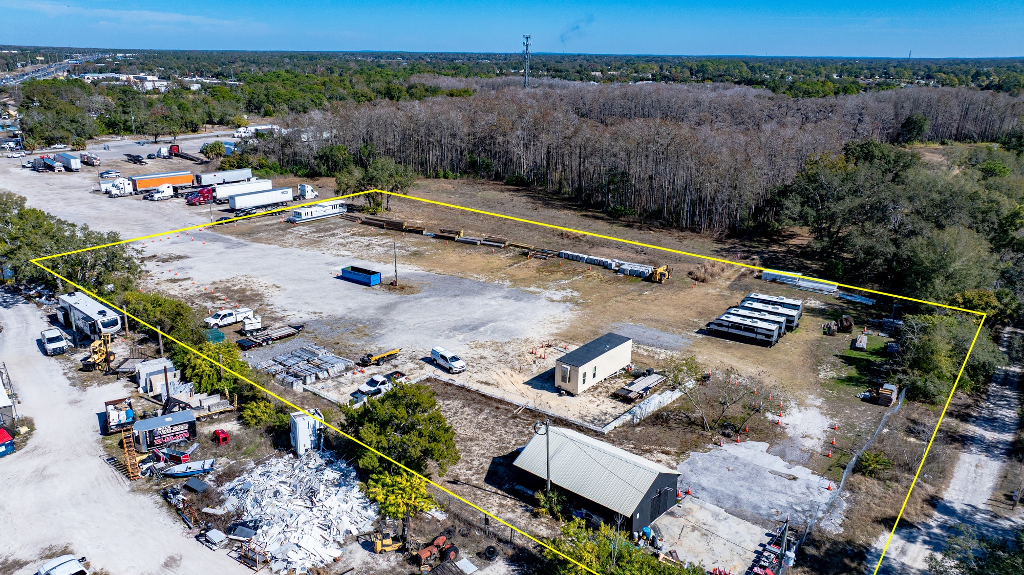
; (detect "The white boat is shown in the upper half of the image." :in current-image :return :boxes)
[282,201,340,222]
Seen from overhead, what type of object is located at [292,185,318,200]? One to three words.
vehicle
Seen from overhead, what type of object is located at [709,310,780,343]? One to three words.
vehicle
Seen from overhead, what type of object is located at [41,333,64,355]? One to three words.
truck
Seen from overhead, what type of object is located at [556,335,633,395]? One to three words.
trailer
